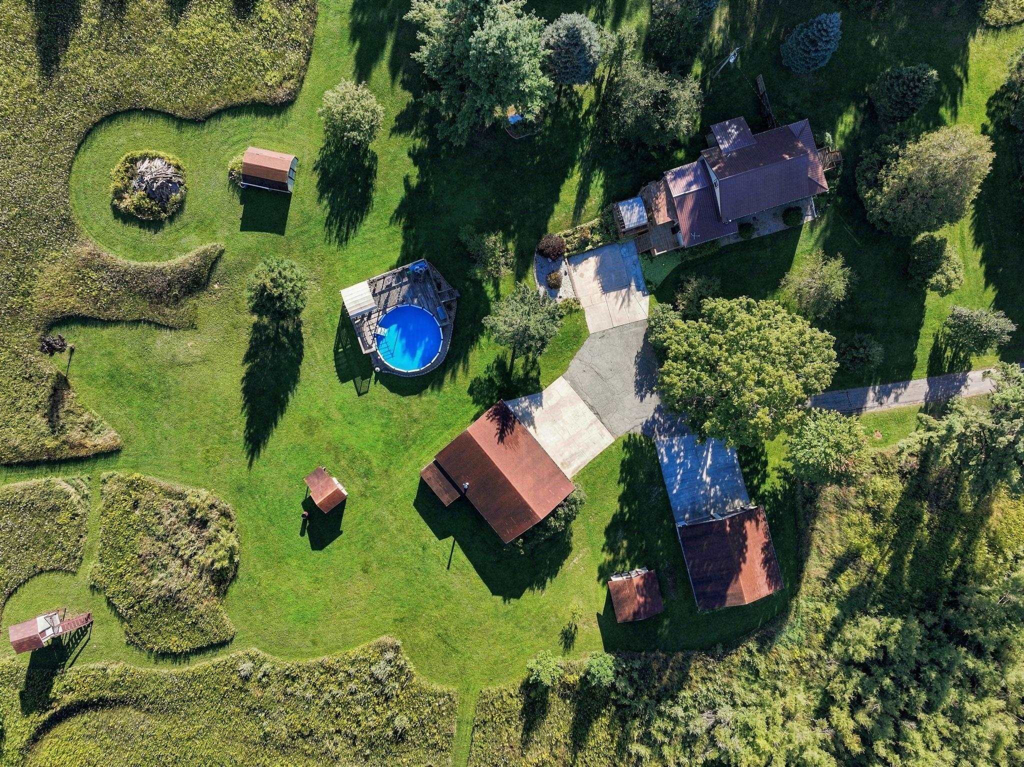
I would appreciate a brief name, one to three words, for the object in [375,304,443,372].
swimming pool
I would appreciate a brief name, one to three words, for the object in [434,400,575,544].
building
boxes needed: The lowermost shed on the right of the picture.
[607,566,664,622]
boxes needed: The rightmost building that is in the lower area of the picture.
[676,504,784,610]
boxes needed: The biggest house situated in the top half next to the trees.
[661,117,829,252]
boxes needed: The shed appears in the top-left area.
[239,147,301,196]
